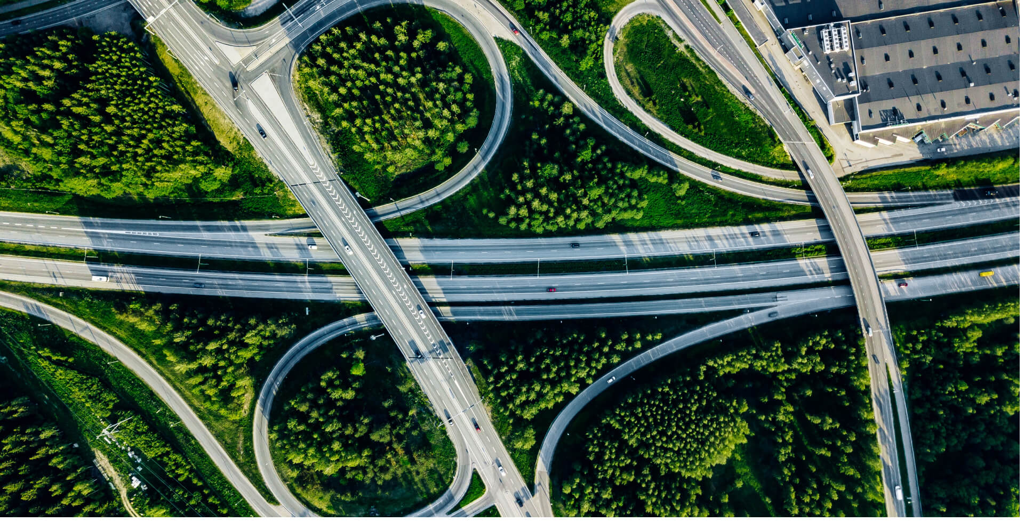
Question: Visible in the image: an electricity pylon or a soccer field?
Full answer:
This aerial view contains an electricity pylon.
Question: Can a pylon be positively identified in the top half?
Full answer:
No, I can find no pylon in the top half.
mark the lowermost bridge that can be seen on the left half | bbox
[286,176,462,362]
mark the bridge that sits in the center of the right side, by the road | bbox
[785,140,891,332]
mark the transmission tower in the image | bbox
[94,427,141,457]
